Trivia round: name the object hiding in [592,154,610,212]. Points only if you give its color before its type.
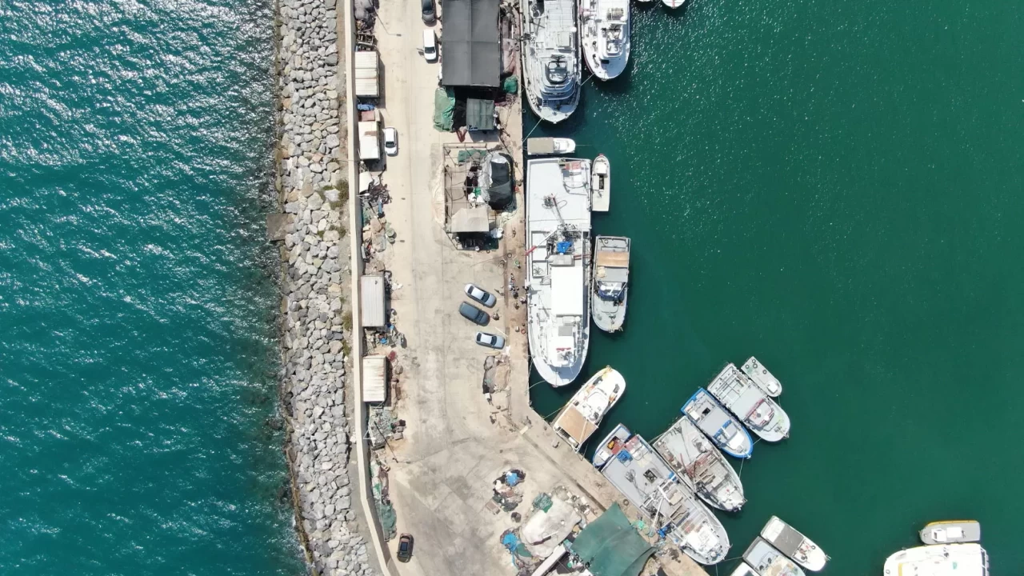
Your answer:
white boat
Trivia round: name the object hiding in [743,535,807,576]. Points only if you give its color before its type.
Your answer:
white boat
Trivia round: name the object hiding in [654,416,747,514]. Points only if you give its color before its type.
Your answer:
white vessel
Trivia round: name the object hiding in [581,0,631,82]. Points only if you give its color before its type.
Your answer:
white vessel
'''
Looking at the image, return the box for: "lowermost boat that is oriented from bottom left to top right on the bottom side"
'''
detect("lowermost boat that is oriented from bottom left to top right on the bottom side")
[595,425,631,468]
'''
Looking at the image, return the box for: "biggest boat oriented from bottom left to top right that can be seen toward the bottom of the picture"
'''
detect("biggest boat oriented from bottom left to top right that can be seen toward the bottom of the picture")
[552,365,622,449]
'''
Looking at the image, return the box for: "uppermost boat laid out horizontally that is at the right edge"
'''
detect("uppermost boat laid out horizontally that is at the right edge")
[918,520,980,545]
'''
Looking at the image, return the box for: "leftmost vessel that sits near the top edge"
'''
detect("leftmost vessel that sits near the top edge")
[520,0,584,123]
